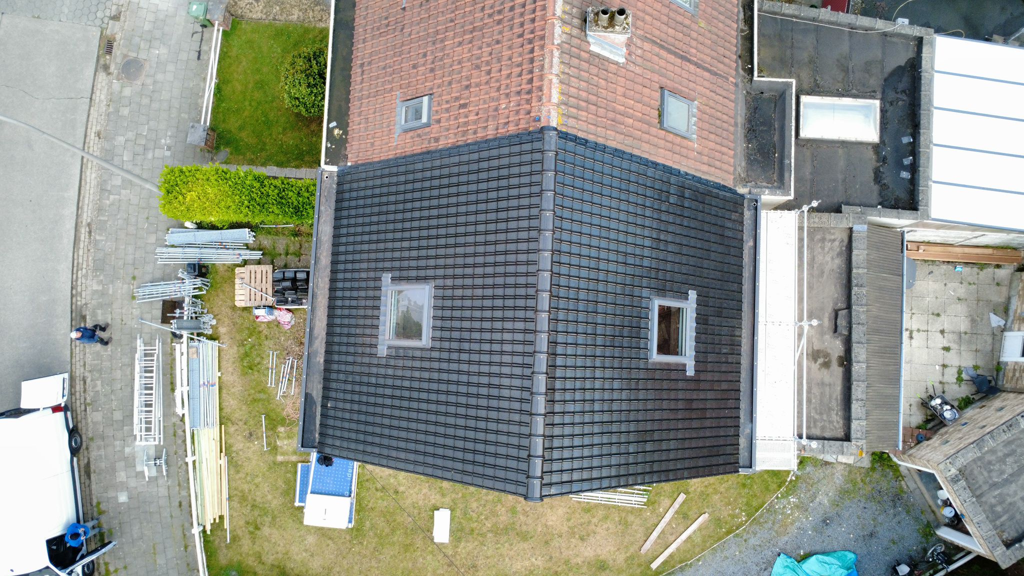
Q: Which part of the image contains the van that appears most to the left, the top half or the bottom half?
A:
bottom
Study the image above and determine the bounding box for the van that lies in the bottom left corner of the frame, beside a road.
[0,373,114,576]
